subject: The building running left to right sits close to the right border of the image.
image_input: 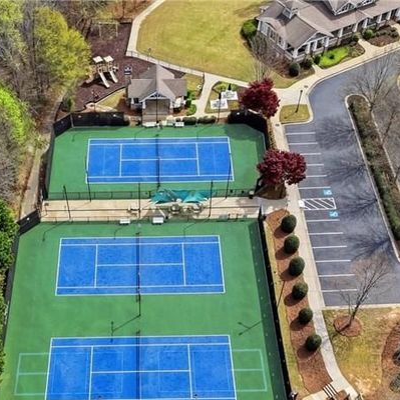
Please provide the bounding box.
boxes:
[247,0,400,63]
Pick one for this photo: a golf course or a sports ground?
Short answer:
sports ground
